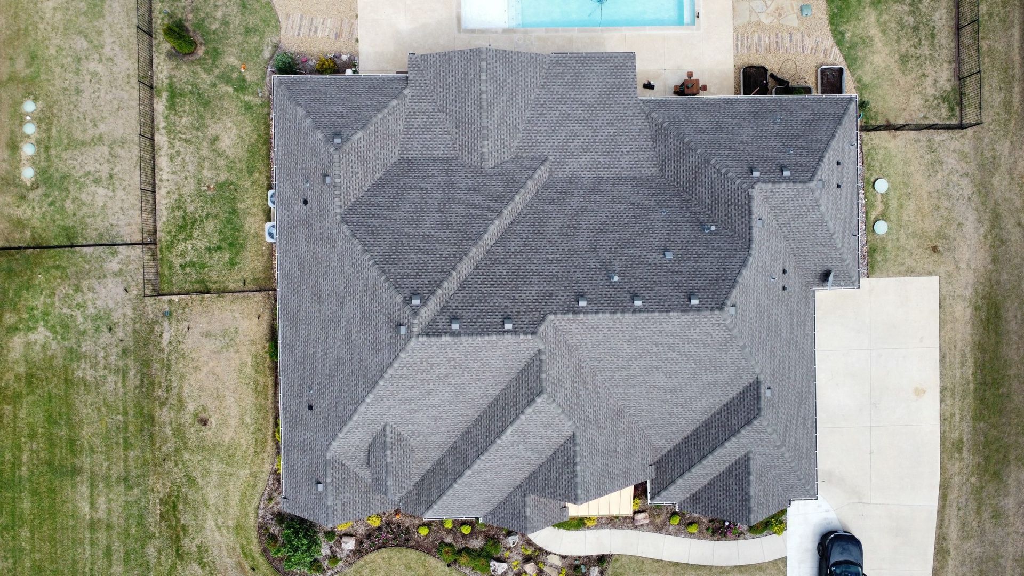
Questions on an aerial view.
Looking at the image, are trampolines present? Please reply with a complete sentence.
No, the frame has no trampoline in it.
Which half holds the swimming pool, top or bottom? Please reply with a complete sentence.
The swimming pool sits in the top half of the picture.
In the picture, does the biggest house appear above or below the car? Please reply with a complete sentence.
From this view, the biggest house can be seen above the car.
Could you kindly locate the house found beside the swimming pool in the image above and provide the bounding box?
[272,48,861,534]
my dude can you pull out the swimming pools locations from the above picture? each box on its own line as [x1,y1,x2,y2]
[455,0,701,34]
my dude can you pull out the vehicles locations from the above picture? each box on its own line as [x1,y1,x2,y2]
[815,530,867,576]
